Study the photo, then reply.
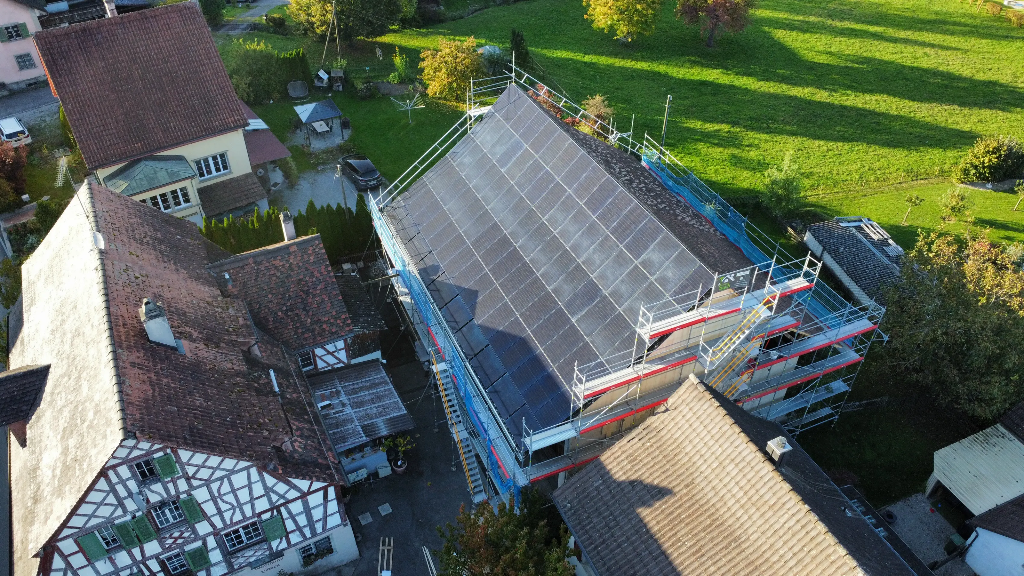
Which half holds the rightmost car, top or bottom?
top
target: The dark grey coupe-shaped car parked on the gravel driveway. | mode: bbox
[338,152,379,189]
